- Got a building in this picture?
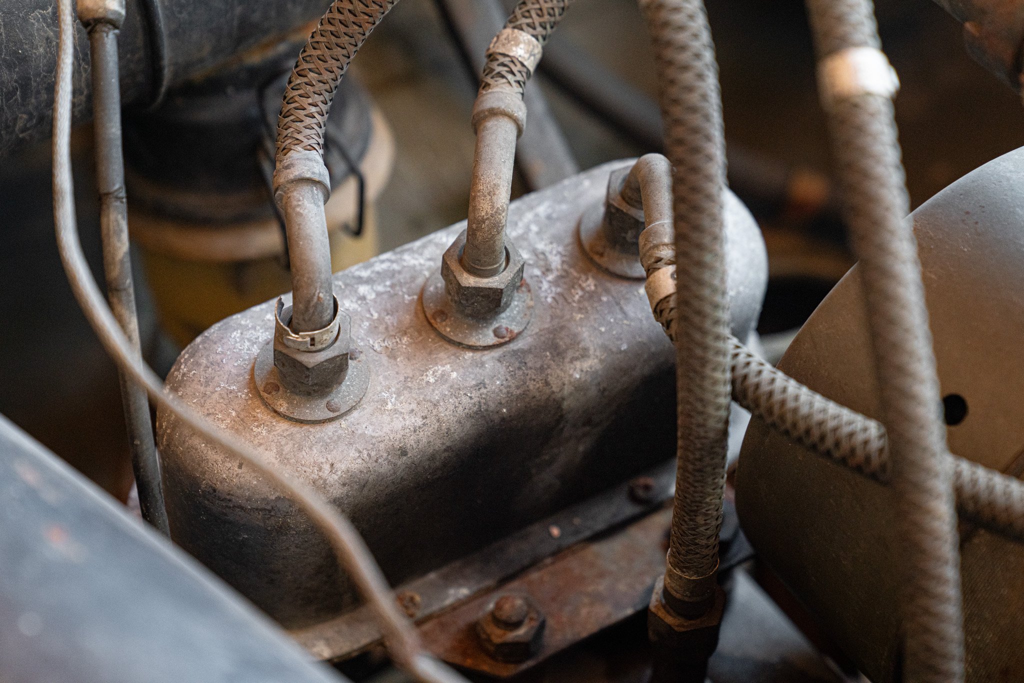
No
